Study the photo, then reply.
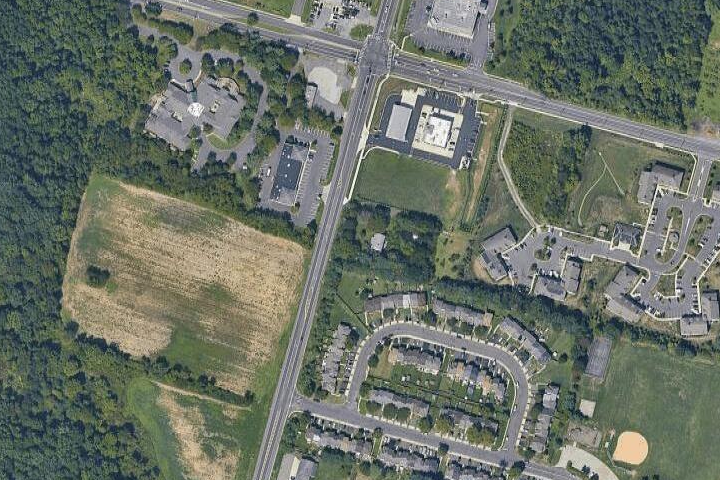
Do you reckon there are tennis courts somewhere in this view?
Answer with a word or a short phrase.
Yes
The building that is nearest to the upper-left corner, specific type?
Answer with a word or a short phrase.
house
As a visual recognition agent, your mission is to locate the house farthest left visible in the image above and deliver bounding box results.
[143,73,249,152]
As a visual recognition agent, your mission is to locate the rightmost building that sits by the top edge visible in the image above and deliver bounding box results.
[430,0,487,36]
